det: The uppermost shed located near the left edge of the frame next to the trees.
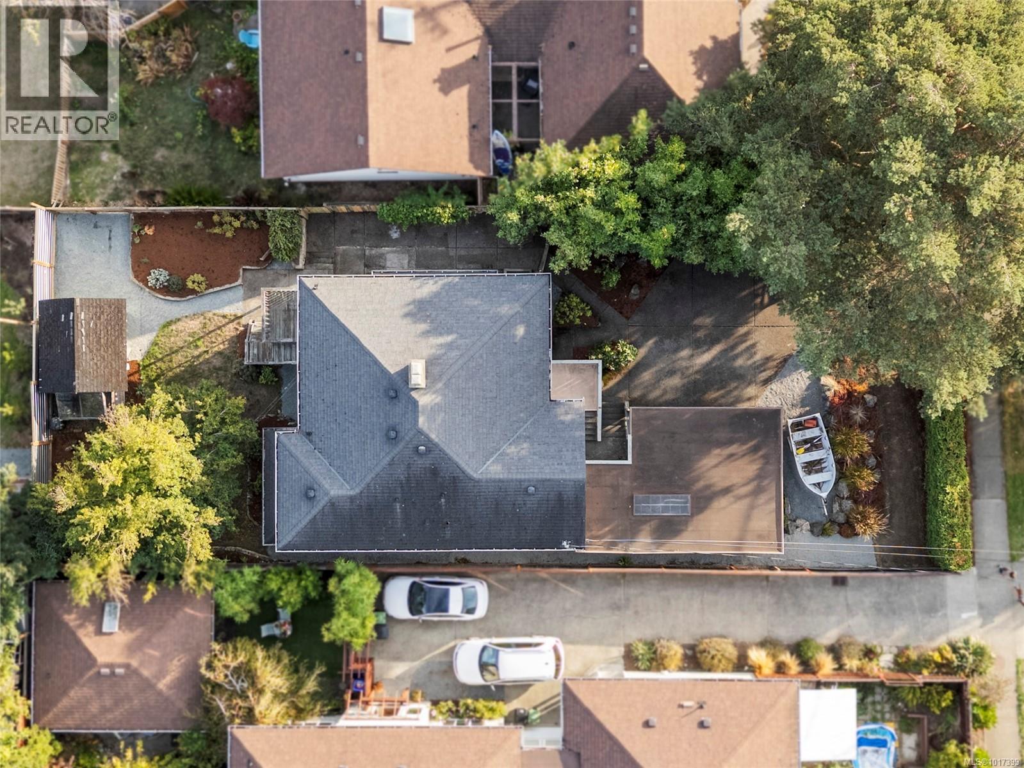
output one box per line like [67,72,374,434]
[37,297,131,392]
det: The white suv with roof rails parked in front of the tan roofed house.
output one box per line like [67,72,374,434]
[459,635,560,689]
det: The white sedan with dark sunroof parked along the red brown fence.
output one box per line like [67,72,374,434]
[387,575,487,624]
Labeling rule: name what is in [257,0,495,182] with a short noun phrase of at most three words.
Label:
house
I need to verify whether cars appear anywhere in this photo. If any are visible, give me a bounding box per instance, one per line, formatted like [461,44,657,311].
[387,575,487,624]
[459,635,560,689]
